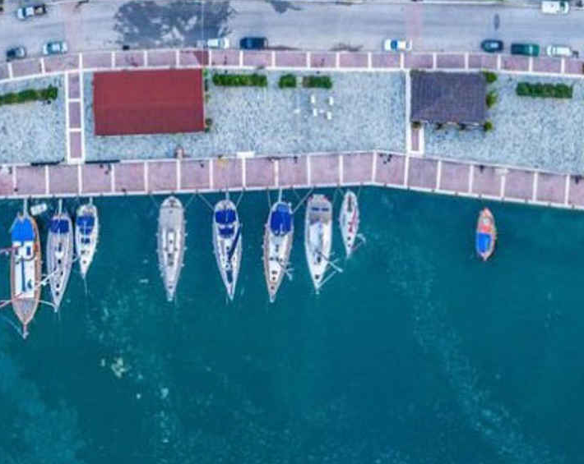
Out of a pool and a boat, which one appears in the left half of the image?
boat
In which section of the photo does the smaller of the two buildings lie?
top right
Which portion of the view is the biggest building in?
top left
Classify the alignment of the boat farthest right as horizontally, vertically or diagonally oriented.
vertically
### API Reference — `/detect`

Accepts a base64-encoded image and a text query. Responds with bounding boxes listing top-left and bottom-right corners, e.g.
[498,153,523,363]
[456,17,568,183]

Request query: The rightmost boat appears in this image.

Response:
[474,207,497,261]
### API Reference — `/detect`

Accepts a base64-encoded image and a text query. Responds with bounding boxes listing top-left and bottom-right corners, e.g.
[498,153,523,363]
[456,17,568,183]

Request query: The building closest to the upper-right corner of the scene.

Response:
[408,70,488,123]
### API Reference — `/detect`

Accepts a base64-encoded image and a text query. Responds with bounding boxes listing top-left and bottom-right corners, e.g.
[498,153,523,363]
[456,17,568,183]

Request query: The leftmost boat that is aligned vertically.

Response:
[0,197,42,342]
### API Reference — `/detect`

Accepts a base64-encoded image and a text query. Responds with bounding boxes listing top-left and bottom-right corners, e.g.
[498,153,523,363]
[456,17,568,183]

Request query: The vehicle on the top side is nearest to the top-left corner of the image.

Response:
[17,2,49,20]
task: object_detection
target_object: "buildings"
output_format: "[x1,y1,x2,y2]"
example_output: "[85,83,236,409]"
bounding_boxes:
[92,69,207,135]
[408,70,488,123]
